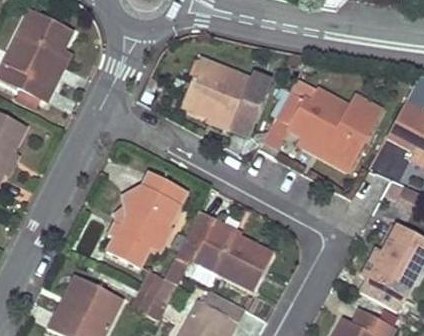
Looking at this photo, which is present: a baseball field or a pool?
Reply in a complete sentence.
I can see a pool in this picture.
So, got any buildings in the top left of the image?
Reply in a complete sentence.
Yes, in the top left of the image there is a building.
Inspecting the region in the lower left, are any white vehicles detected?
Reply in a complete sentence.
Yes, I can see a white vehicle in the lower left.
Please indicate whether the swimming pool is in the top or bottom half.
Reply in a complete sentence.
The bottom half of the photo is where the swimming pool is.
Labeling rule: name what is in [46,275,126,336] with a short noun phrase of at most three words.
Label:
house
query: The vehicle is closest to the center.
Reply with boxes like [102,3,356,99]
[222,156,242,171]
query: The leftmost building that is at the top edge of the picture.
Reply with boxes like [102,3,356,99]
[0,10,76,104]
